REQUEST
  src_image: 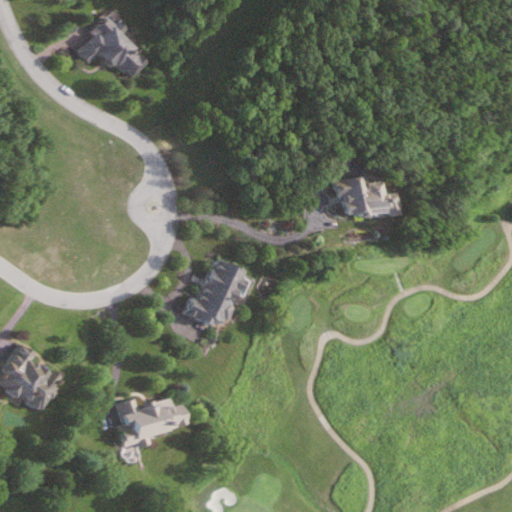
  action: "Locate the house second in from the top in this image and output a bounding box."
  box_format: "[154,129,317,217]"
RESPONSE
[328,174,403,222]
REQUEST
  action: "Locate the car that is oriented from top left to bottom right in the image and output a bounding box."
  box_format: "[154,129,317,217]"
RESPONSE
[58,84,74,97]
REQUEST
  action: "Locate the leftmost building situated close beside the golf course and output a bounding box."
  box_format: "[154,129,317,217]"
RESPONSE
[114,395,192,448]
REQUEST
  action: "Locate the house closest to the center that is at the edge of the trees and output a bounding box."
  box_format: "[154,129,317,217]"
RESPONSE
[180,262,256,326]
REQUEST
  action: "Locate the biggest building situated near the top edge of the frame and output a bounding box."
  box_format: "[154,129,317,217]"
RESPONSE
[76,8,142,70]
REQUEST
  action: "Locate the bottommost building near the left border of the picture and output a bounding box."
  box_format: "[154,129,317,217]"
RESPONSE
[0,342,60,410]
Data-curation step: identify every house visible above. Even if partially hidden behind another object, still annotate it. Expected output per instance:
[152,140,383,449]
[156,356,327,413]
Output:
[328,174,403,222]
[114,395,192,448]
[76,8,142,70]
[0,342,60,410]
[180,262,256,326]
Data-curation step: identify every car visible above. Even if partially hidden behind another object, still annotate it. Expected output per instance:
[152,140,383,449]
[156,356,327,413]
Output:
[324,221,337,228]
[100,418,108,431]
[58,84,74,97]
